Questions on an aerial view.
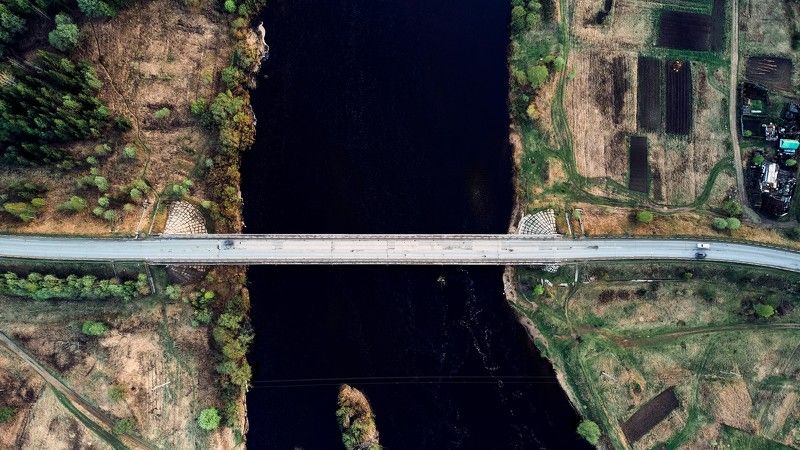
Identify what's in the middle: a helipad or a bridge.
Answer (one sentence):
What appears in the middle is a bridge.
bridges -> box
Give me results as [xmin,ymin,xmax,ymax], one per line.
[152,234,571,266]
